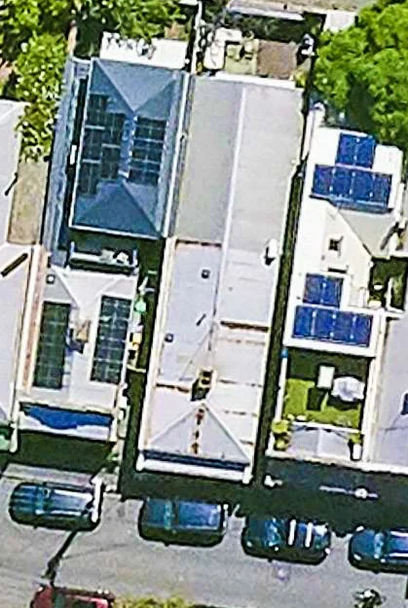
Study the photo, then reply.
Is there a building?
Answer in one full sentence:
Yes, there's a building here.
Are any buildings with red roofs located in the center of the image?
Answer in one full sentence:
No, no building with a red roof appears in the center of the image.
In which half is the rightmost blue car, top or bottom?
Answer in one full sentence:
It is in the bottom half that the rightmost blue car appears.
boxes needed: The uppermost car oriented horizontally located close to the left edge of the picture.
[8,478,97,521]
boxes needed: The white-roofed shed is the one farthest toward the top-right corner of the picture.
[323,9,356,32]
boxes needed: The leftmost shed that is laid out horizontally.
[226,0,305,21]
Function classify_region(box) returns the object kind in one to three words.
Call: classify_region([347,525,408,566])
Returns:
car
